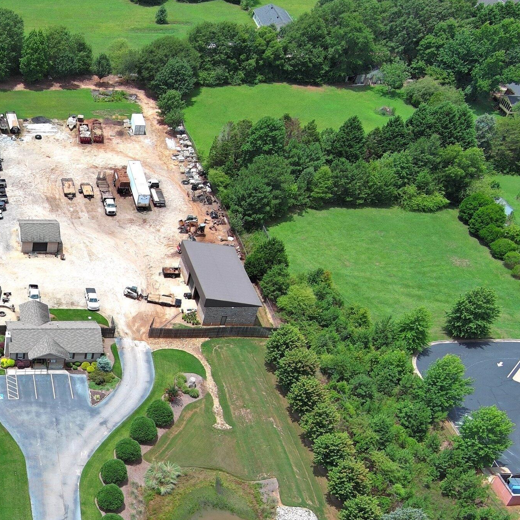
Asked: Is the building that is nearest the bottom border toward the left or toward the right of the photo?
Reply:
left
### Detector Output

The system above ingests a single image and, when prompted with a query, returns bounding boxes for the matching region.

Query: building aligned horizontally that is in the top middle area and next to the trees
[241,3,302,34]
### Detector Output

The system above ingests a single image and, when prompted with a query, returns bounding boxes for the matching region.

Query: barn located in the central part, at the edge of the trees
[181,240,262,325]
